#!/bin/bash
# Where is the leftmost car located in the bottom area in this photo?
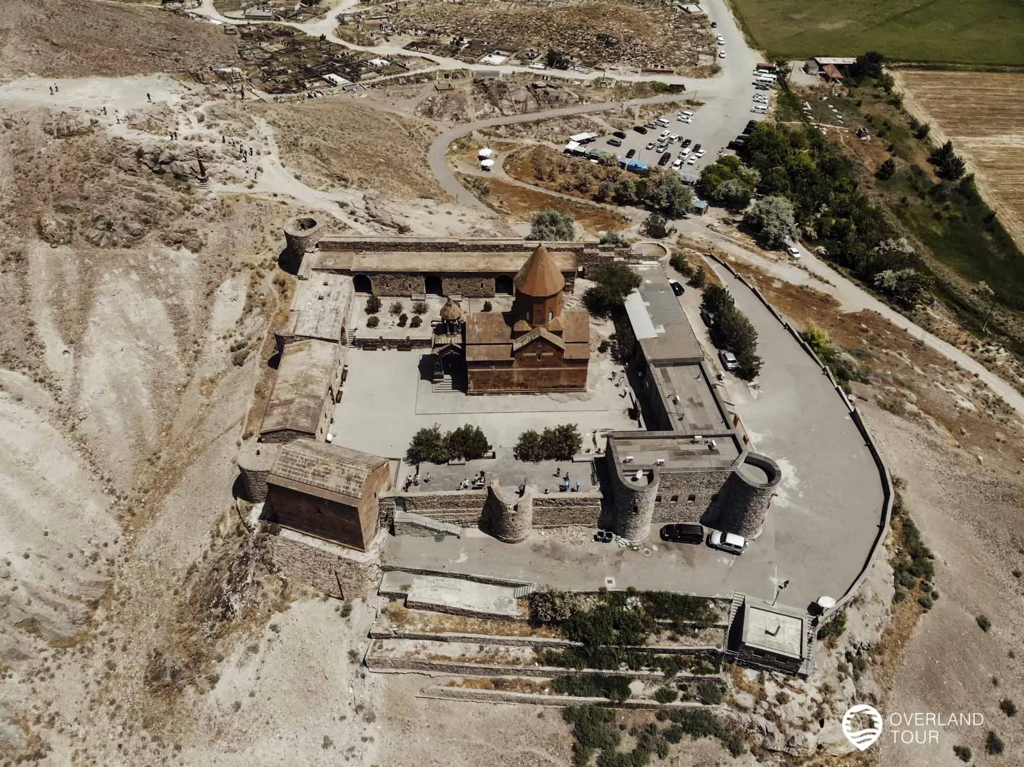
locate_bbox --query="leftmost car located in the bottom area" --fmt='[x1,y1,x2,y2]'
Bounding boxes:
[660,522,704,544]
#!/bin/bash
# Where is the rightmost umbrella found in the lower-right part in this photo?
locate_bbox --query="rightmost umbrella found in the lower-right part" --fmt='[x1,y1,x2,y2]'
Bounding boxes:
[816,595,836,612]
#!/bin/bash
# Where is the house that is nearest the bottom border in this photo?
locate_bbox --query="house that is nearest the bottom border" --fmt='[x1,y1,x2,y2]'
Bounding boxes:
[718,596,818,696]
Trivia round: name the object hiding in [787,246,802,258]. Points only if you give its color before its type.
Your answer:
white vehicle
